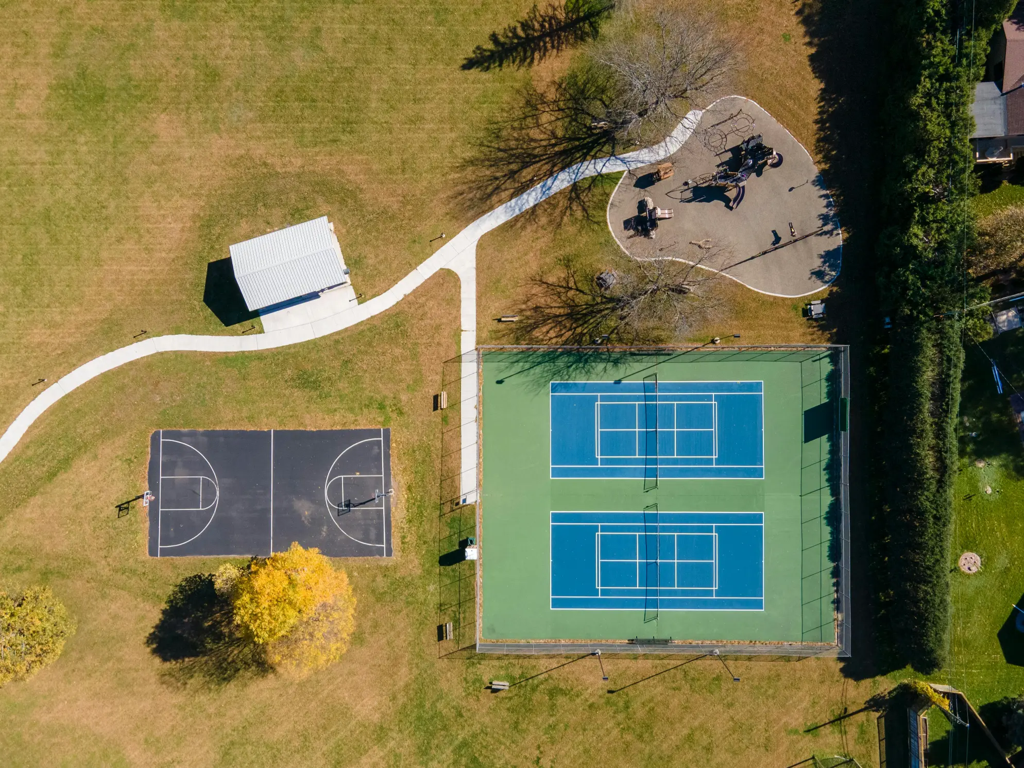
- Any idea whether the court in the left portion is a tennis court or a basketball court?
basketball court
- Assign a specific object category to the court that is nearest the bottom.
tennis court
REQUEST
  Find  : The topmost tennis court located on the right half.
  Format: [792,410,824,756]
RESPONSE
[482,350,832,495]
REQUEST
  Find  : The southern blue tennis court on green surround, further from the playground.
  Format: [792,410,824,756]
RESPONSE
[482,495,835,642]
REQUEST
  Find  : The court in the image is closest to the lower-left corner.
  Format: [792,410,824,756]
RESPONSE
[148,428,393,557]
